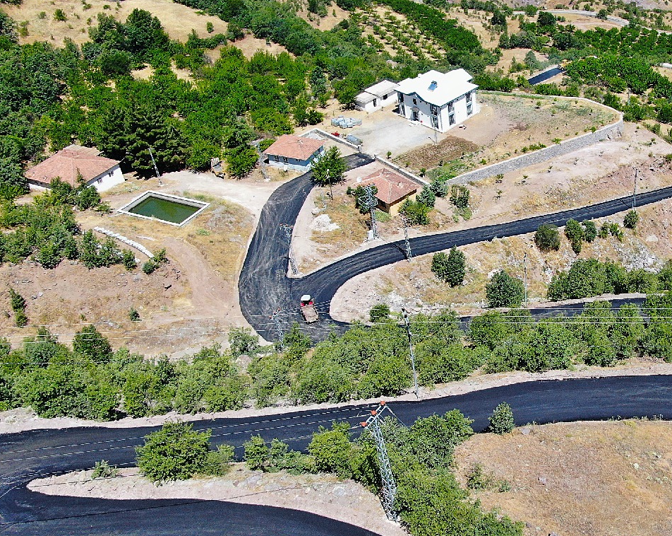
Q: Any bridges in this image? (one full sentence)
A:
No, I can see no bridge in this picture.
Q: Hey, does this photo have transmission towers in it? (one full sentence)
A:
Yes, you can see a transmission tower in this photo.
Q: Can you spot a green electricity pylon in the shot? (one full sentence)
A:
No, there's no green electricity pylon here.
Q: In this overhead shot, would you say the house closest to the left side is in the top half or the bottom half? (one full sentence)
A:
It is in the top half that the house closest to the left side appears.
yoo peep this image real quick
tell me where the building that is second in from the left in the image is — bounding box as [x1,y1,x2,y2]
[264,133,326,172]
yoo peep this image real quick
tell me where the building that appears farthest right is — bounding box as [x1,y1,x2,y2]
[396,69,477,129]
